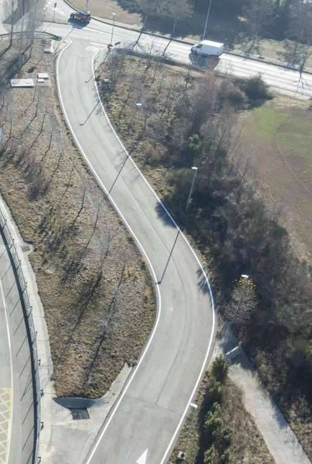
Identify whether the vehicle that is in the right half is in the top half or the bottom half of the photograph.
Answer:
top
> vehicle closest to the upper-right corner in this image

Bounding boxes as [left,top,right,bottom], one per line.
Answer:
[191,38,228,59]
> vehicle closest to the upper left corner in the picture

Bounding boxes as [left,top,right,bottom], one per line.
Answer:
[69,11,92,26]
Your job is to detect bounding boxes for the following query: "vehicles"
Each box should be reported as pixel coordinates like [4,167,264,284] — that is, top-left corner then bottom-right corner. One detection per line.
[69,11,92,26]
[191,38,228,59]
